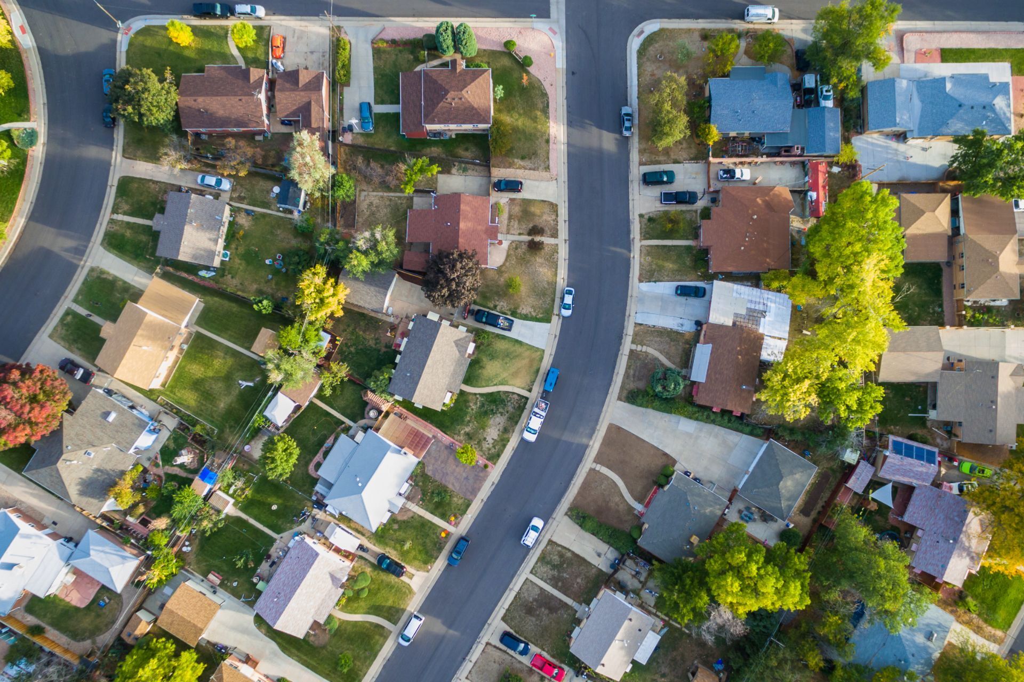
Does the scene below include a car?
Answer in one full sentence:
Yes, the frame does contain a car.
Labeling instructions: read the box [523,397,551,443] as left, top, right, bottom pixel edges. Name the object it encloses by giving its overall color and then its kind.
white truck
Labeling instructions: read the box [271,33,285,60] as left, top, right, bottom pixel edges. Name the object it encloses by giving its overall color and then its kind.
orange car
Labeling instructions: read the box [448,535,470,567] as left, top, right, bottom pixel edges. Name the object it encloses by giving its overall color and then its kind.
blue car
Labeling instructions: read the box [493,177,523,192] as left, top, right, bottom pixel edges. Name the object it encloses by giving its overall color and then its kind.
black car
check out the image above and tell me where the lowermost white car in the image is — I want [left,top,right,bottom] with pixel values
[400,612,424,647]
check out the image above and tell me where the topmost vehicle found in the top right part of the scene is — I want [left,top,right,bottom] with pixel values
[743,4,779,23]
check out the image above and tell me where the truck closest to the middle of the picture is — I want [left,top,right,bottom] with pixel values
[473,309,515,331]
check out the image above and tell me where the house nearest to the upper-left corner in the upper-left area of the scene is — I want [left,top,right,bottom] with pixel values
[177,65,273,134]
